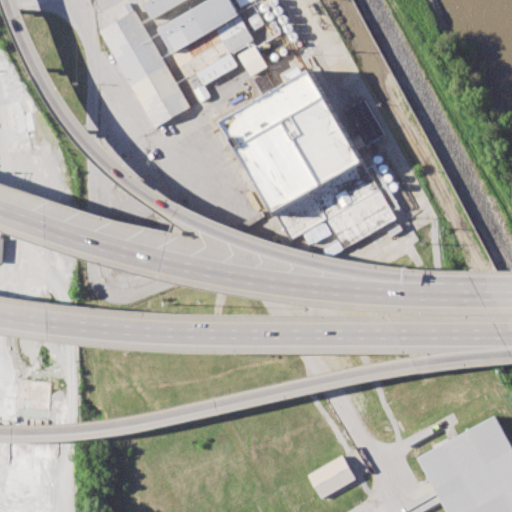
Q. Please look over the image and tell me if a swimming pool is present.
No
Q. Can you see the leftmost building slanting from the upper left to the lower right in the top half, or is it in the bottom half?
top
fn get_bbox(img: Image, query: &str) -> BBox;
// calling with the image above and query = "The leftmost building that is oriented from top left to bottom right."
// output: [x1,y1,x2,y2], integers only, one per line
[100,10,191,128]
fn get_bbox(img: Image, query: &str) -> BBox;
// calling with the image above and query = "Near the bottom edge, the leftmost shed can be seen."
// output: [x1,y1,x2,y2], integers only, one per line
[307,454,356,500]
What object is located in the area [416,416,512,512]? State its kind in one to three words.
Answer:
building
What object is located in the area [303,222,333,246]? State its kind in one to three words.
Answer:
shed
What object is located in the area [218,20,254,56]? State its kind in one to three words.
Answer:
building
